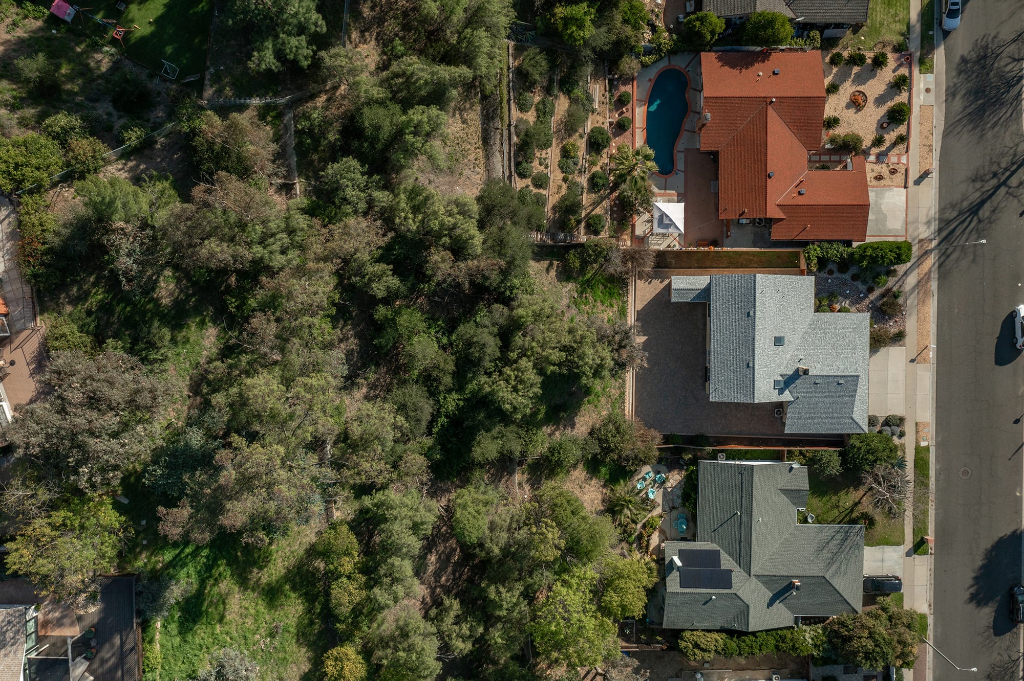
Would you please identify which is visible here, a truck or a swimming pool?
swimming pool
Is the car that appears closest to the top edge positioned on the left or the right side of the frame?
right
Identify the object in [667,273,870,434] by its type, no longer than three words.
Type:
house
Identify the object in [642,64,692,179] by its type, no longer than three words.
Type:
swimming pool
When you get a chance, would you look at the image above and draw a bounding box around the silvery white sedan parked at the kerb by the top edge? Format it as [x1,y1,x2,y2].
[942,0,969,30]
